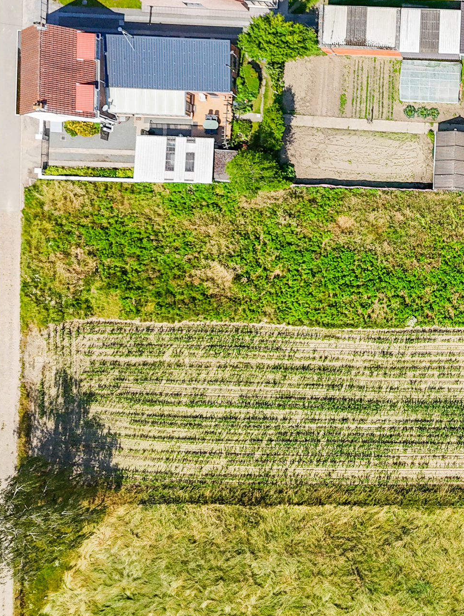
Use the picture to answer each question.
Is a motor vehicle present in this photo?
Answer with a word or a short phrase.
No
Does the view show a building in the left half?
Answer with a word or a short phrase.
Yes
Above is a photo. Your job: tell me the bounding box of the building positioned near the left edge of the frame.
[15,20,115,125]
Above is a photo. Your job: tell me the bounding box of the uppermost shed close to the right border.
[319,2,464,62]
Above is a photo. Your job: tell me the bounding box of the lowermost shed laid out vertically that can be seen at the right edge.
[432,129,464,192]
